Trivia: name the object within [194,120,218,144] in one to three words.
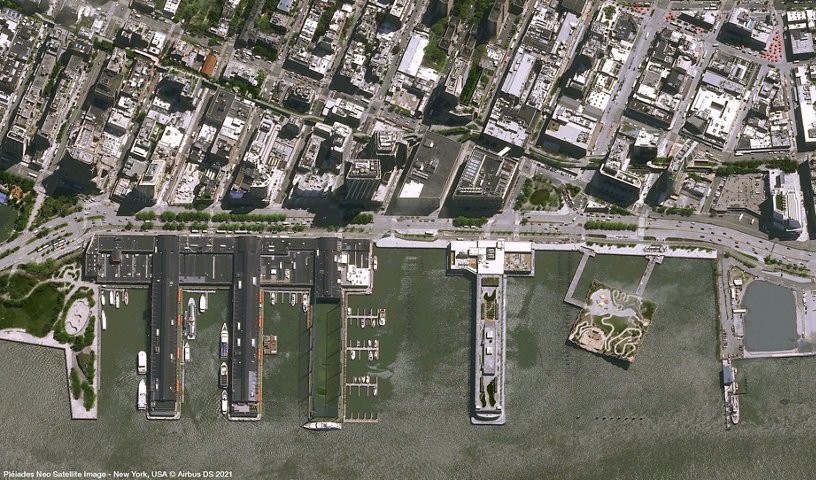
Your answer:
building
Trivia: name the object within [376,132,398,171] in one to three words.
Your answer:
building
